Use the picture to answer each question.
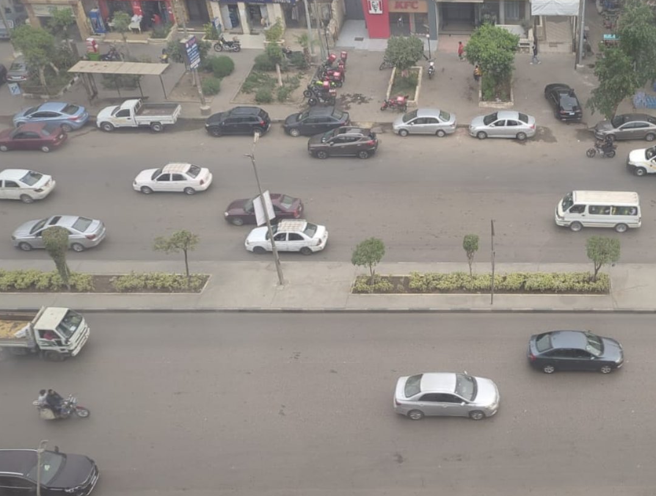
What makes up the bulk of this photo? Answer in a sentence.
What you mostly see from above here is paved ground.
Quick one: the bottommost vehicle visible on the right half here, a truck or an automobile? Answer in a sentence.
What you see as the bottommost vehicle visible on the right half is an automobile.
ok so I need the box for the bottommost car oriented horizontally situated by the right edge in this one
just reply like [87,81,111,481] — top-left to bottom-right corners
[523,328,627,373]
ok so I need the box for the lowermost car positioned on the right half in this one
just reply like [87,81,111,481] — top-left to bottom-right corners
[388,370,500,419]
